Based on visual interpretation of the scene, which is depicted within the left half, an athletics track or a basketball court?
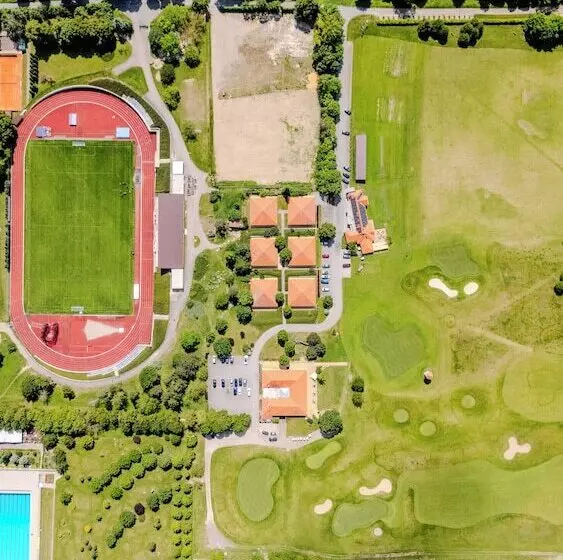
athletics track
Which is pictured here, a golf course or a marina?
golf course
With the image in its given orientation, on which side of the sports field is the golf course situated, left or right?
to the right of it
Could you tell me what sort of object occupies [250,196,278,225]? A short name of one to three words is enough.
house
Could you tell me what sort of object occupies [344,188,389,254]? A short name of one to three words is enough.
building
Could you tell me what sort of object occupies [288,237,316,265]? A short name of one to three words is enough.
house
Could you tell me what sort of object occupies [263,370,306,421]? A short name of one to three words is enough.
building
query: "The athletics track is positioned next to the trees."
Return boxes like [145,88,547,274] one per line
[10,87,156,373]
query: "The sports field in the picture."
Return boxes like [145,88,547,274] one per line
[26,140,134,314]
